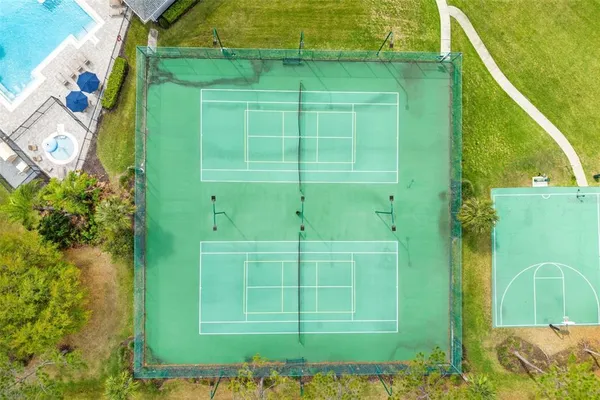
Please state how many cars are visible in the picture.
none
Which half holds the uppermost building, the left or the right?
left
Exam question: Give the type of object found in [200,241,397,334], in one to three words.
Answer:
tennis court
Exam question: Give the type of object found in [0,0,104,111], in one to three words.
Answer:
swimming pool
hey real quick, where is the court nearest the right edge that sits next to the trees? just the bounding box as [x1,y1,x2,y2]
[492,187,600,328]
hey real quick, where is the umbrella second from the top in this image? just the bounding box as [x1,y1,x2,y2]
[66,90,91,114]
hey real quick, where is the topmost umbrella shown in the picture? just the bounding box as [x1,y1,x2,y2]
[76,70,102,94]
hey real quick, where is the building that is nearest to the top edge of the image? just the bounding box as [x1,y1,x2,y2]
[121,0,179,30]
